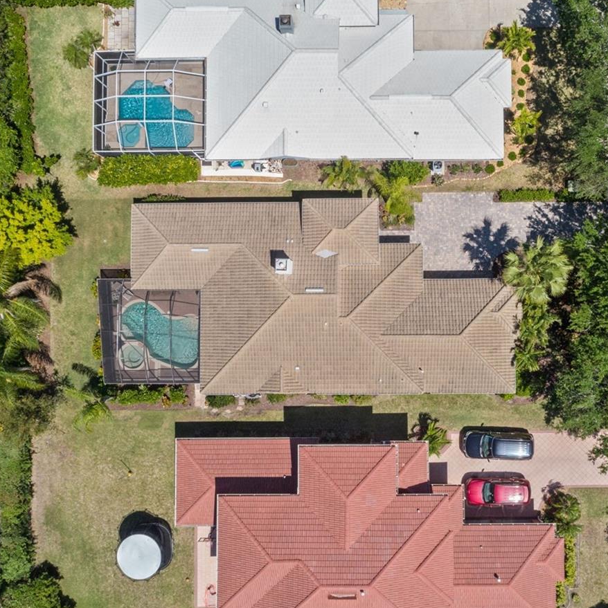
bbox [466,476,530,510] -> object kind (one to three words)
car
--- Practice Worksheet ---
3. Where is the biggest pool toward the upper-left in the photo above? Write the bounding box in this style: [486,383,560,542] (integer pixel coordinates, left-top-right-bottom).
[117,77,197,150]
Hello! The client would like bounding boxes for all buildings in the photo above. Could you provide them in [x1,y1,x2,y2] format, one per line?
[129,196,524,397]
[173,436,567,608]
[133,0,514,161]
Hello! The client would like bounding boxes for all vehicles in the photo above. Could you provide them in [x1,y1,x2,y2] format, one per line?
[466,476,530,510]
[463,428,533,463]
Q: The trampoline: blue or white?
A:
white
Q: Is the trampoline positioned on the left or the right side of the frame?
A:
left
